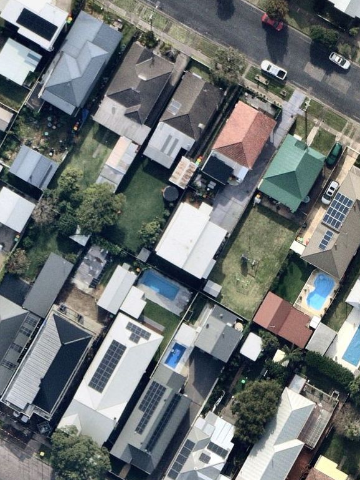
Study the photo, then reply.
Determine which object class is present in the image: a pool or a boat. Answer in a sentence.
It is a pool that can be seen here.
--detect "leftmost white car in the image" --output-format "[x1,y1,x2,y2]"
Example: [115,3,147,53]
[261,61,286,80]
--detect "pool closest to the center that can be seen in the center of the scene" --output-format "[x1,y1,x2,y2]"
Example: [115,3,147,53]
[139,267,182,303]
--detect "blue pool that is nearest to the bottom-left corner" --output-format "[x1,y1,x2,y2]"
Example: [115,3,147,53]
[164,343,189,370]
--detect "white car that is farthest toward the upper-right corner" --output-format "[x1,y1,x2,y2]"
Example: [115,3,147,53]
[328,52,352,70]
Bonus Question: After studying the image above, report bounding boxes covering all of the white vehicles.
[321,180,339,205]
[261,61,286,80]
[328,52,352,70]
